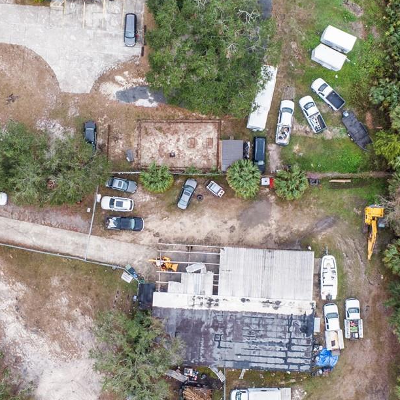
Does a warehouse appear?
Yes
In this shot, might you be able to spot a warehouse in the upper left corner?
No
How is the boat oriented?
from top to bottom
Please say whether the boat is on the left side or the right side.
right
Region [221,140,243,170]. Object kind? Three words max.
shed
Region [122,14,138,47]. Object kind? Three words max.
vehicle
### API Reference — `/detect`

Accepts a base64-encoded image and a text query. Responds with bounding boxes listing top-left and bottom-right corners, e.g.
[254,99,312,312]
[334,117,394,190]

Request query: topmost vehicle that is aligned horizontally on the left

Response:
[105,176,138,193]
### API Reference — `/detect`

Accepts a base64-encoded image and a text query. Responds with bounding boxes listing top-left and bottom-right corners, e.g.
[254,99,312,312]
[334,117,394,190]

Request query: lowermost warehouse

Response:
[152,247,319,371]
